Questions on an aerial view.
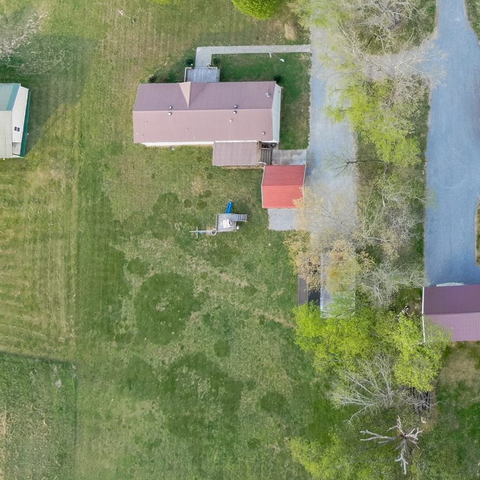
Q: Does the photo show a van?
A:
No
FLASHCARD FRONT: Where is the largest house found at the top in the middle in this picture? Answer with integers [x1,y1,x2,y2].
[132,63,280,166]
